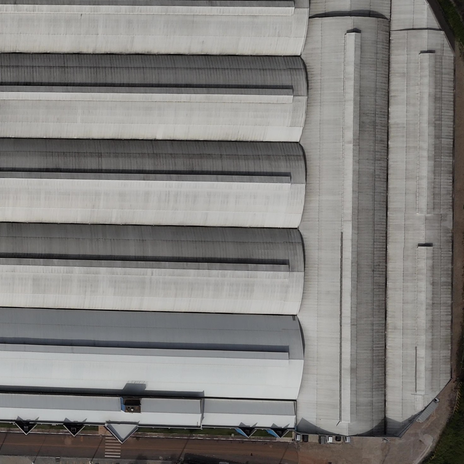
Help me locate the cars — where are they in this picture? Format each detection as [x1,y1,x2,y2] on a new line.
[318,434,326,446]
[325,434,332,446]
[294,432,301,444]
[343,436,350,445]
[333,436,342,443]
